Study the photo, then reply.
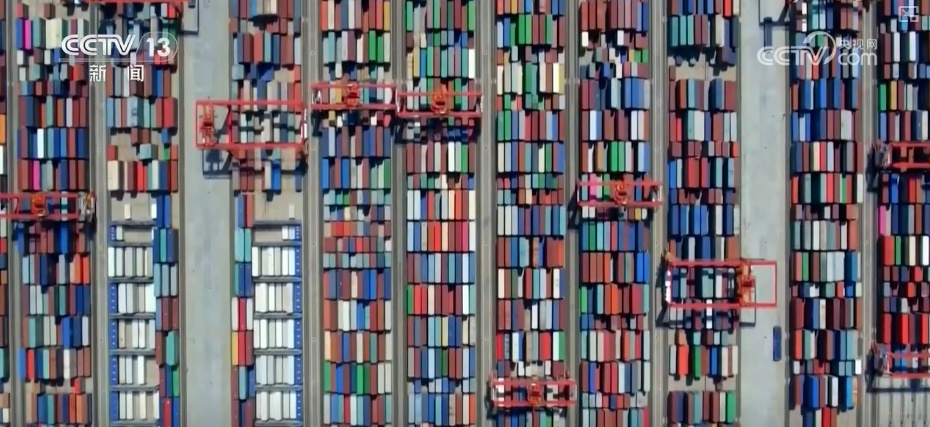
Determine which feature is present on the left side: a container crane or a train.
container crane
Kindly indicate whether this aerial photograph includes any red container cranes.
Yes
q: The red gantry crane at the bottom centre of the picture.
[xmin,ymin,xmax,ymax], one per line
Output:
[488,363,579,410]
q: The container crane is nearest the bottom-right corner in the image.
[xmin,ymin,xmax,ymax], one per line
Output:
[868,336,930,379]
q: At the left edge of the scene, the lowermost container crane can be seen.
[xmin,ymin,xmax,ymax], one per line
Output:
[0,184,97,227]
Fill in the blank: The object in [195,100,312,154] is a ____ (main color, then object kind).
red container crane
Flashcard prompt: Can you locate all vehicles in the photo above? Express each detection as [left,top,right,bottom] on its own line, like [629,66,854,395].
[773,324,781,361]
[764,16,772,53]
